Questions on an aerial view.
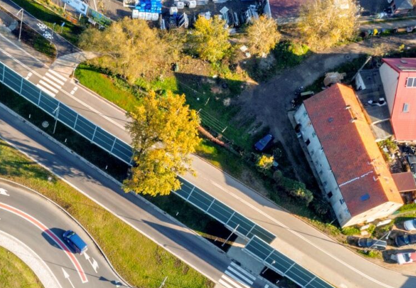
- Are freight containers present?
No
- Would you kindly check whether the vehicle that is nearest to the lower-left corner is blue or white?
blue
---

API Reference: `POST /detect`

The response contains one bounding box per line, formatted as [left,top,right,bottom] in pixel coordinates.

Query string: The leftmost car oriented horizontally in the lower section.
[352,236,385,251]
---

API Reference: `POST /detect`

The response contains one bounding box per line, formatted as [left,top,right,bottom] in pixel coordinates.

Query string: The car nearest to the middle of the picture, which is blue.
[256,133,274,153]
